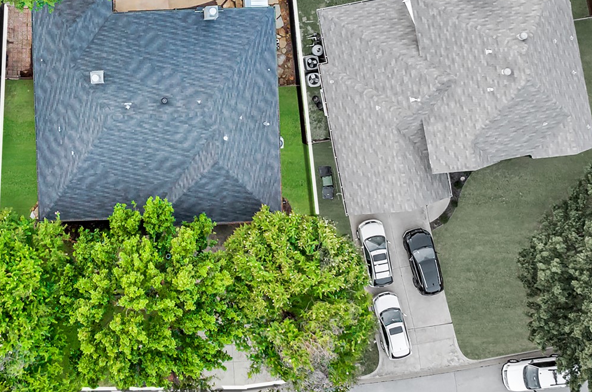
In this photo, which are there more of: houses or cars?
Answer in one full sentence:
The cars outnumber the houses.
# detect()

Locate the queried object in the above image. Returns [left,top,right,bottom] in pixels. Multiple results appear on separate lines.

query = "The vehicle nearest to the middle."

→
[355,220,393,287]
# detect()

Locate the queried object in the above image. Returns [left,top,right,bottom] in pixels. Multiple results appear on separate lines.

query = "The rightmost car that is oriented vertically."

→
[402,227,443,297]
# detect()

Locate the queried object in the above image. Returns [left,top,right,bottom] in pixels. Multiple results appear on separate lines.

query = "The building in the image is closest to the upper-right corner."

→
[316,0,592,215]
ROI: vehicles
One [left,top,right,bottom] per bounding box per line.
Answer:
[355,220,393,287]
[402,227,443,297]
[500,355,577,392]
[371,291,410,359]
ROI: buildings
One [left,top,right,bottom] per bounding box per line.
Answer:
[316,0,592,215]
[33,0,284,221]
